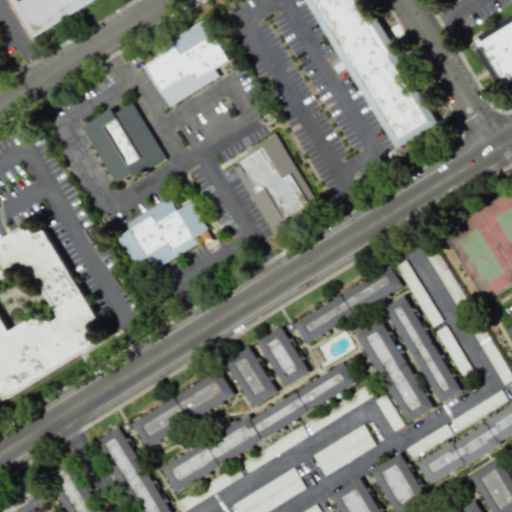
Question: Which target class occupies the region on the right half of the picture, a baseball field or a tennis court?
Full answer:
There is a tennis court on the right half of the picture.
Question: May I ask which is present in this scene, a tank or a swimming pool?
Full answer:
The one in the frame is a swimming pool.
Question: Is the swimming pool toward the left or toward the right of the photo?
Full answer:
It is on the right.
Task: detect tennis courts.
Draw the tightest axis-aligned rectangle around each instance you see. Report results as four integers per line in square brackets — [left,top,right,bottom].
[484,194,512,261]
[451,214,512,297]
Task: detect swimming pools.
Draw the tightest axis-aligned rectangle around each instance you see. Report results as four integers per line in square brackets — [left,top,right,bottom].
[320,331,356,368]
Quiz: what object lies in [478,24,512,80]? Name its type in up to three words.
building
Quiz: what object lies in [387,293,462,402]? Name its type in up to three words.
building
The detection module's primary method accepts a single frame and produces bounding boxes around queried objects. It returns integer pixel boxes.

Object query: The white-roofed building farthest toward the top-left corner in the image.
[10,0,96,38]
